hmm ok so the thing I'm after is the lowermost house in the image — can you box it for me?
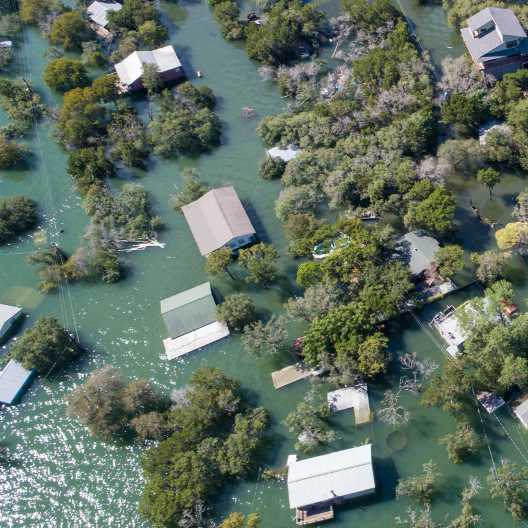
[287,443,376,526]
